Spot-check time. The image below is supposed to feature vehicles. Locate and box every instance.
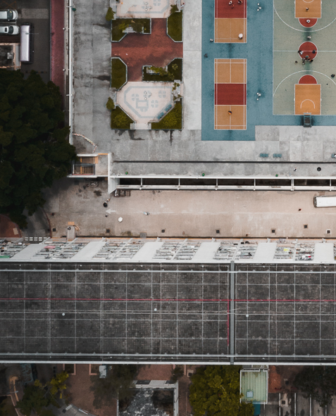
[312,195,336,207]
[0,9,16,21]
[0,24,19,35]
[19,22,33,64]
